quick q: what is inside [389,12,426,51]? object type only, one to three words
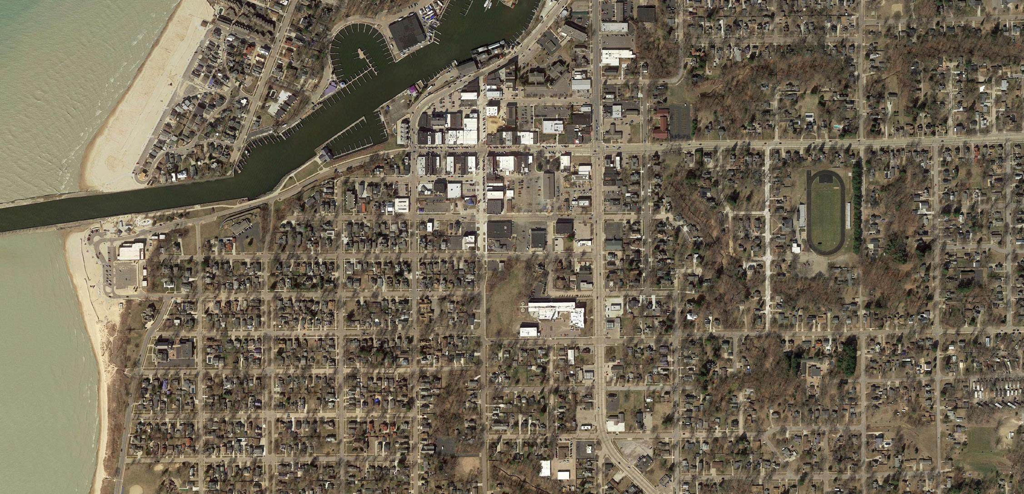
building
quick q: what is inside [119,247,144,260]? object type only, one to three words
building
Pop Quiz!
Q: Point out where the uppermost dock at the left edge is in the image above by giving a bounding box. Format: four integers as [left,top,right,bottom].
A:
[0,185,136,209]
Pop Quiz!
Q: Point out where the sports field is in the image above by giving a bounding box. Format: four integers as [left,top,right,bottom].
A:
[811,174,841,251]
